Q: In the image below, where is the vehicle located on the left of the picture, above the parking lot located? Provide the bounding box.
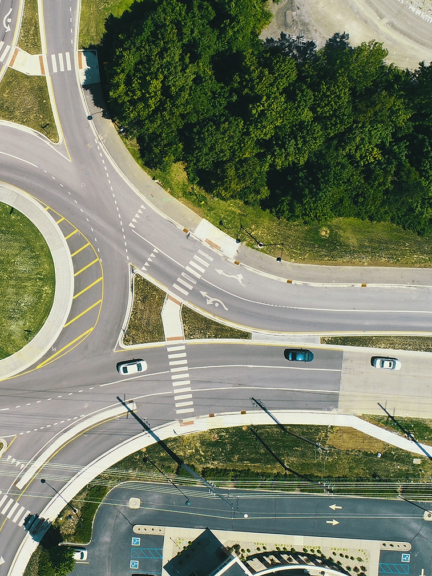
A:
[115,359,149,374]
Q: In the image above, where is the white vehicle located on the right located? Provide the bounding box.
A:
[369,356,402,371]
